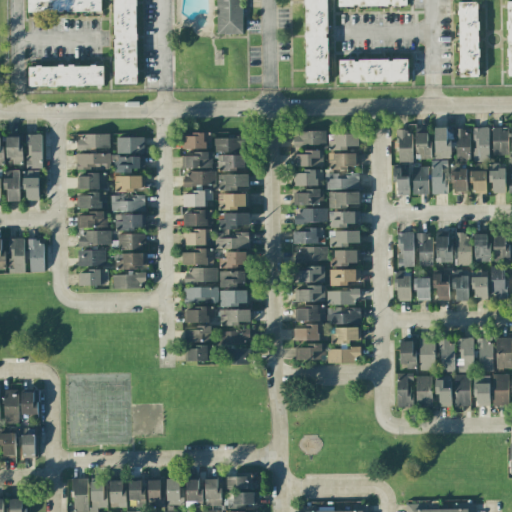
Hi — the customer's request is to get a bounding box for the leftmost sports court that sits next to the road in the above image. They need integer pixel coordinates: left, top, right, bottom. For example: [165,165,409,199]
[66,372,132,446]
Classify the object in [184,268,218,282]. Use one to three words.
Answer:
house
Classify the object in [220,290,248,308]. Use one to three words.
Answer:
house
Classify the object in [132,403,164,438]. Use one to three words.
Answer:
basketball court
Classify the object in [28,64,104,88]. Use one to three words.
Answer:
building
